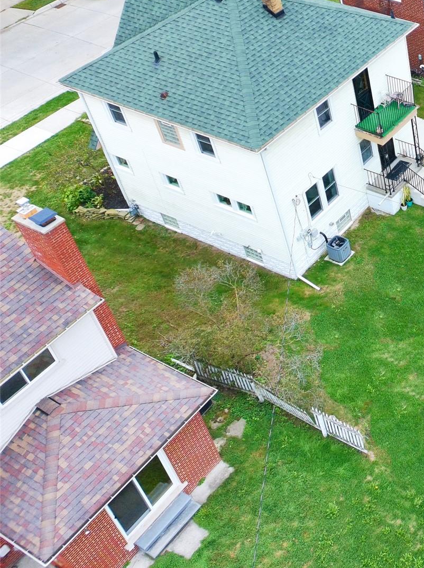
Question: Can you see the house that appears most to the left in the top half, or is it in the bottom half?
bottom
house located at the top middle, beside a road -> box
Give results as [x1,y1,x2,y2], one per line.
[53,0,424,292]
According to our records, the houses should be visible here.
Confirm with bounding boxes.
[0,200,226,568]
[53,0,424,292]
